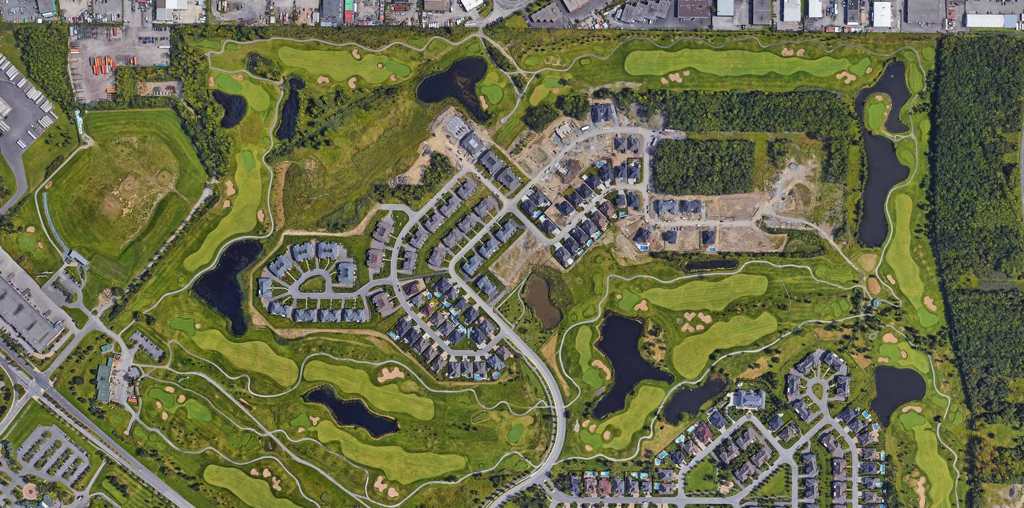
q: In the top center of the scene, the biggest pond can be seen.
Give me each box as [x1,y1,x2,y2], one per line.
[418,56,490,120]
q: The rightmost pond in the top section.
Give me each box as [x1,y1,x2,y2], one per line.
[854,61,911,247]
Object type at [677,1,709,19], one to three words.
building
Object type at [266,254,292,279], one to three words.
building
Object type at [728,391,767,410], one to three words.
house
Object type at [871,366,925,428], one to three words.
pond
